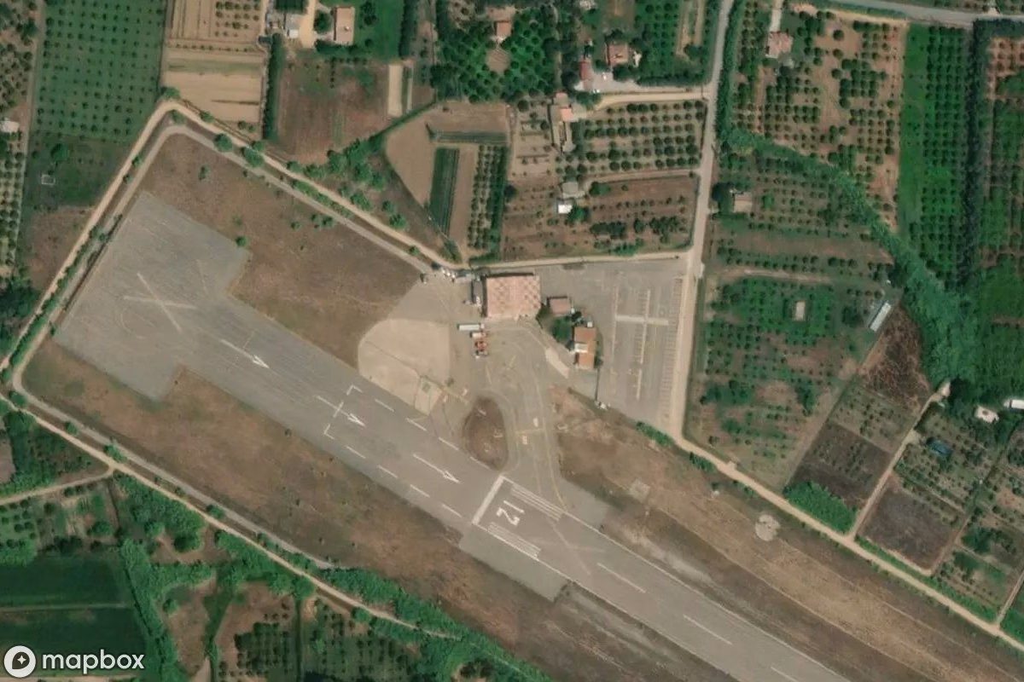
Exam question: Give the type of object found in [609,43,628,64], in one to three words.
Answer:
house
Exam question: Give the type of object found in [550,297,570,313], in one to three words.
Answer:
house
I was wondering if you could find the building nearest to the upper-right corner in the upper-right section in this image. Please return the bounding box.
[768,32,792,58]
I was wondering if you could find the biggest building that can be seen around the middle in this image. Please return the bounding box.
[486,276,540,322]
